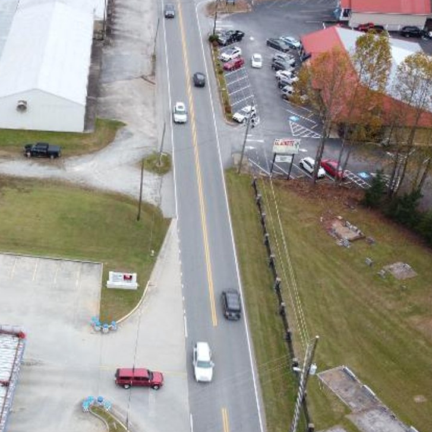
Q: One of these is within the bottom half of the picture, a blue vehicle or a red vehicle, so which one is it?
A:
red vehicle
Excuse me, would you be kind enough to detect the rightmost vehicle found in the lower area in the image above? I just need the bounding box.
[222,290,242,317]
